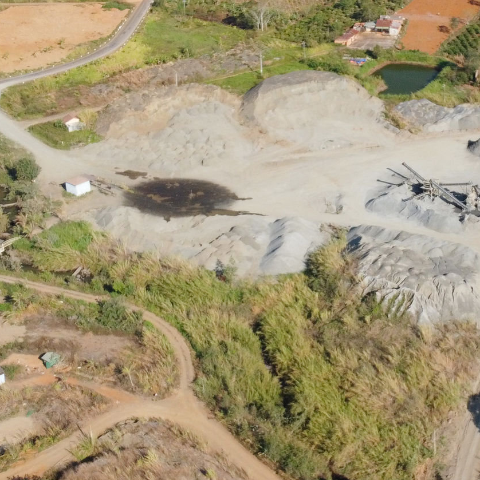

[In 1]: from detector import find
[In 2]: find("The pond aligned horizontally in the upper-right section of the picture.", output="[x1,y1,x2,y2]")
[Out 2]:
[371,63,440,94]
